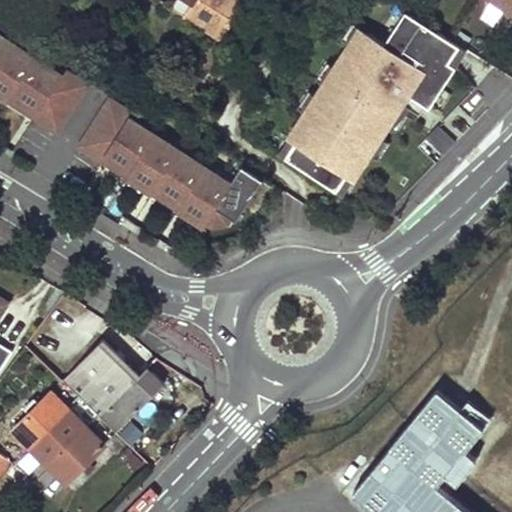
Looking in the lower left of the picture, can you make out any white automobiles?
Yes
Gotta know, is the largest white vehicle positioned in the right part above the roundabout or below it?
below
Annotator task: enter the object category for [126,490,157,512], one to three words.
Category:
bus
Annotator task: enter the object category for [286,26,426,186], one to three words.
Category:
building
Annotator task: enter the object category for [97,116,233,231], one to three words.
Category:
house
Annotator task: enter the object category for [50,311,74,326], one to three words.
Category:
car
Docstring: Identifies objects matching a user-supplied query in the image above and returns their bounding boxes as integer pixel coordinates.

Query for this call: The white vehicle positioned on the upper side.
[463,92,483,112]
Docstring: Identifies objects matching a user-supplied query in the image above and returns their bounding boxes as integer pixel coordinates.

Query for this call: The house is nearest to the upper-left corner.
[0,35,88,135]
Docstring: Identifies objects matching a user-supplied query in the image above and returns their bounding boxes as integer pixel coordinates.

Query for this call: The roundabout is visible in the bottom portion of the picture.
[162,240,392,442]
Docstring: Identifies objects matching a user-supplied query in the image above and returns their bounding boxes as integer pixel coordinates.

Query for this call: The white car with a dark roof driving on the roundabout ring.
[218,326,237,346]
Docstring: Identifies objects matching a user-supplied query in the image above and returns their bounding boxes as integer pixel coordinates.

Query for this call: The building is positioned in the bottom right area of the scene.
[352,394,481,512]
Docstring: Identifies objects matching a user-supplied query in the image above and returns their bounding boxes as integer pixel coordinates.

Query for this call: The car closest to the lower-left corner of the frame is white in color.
[44,480,62,497]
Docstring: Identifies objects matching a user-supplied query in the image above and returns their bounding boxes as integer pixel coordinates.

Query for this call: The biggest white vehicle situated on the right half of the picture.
[340,456,367,484]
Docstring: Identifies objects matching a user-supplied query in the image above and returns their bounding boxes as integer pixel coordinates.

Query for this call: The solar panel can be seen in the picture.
[12,422,38,448]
